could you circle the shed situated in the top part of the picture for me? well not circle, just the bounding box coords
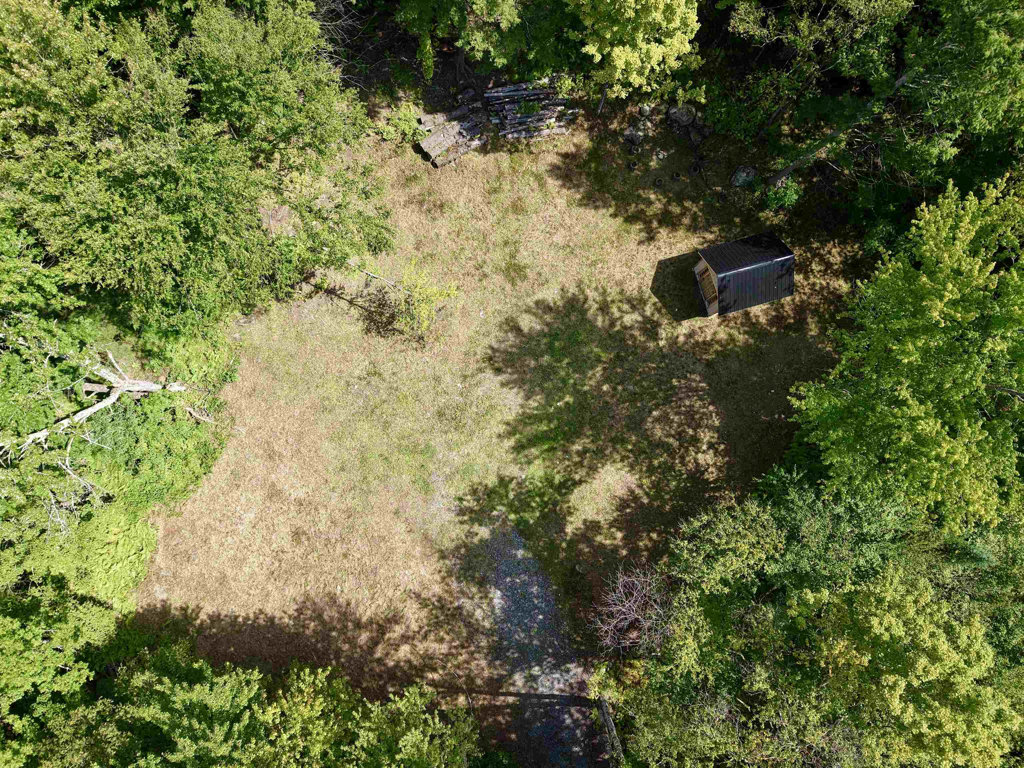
[691,227,795,314]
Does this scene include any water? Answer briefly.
No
